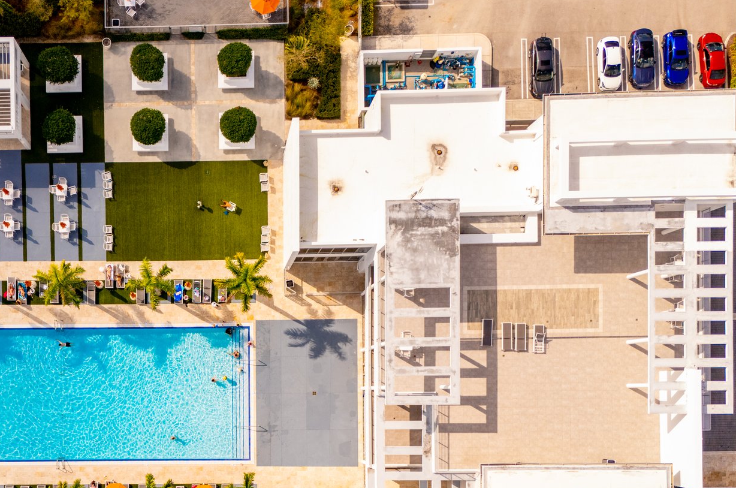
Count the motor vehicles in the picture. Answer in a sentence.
Altogether the scene contains 5 motor vehicles.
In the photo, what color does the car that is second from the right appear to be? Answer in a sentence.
In this view, the car that is second from the right is blue.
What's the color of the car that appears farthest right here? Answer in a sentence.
The color of the car that appears farthest right is red.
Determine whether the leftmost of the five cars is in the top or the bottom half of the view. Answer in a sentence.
The leftmost of the five cars sits in the top half of the picture.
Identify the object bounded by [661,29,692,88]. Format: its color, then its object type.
blue car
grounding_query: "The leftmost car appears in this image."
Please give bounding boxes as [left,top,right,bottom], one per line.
[529,31,558,98]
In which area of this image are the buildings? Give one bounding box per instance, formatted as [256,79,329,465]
[285,88,736,488]
[0,36,31,148]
